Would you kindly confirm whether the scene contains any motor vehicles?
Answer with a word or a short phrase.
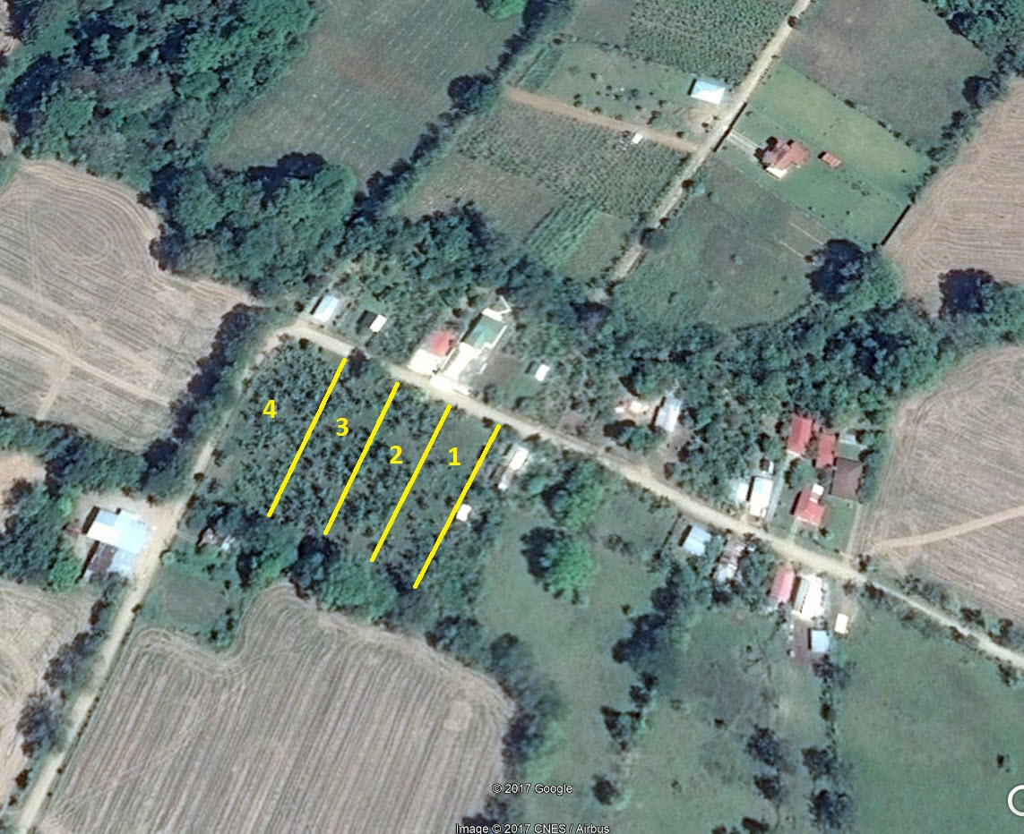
No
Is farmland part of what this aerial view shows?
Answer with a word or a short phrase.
Yes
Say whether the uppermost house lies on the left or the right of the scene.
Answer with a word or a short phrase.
right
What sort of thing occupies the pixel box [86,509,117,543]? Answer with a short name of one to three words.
house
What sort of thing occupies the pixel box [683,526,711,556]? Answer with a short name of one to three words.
house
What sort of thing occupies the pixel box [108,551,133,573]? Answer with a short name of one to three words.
shed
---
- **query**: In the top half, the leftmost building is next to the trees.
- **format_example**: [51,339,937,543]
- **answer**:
[312,295,338,321]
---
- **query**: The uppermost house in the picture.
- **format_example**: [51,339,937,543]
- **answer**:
[691,78,725,104]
